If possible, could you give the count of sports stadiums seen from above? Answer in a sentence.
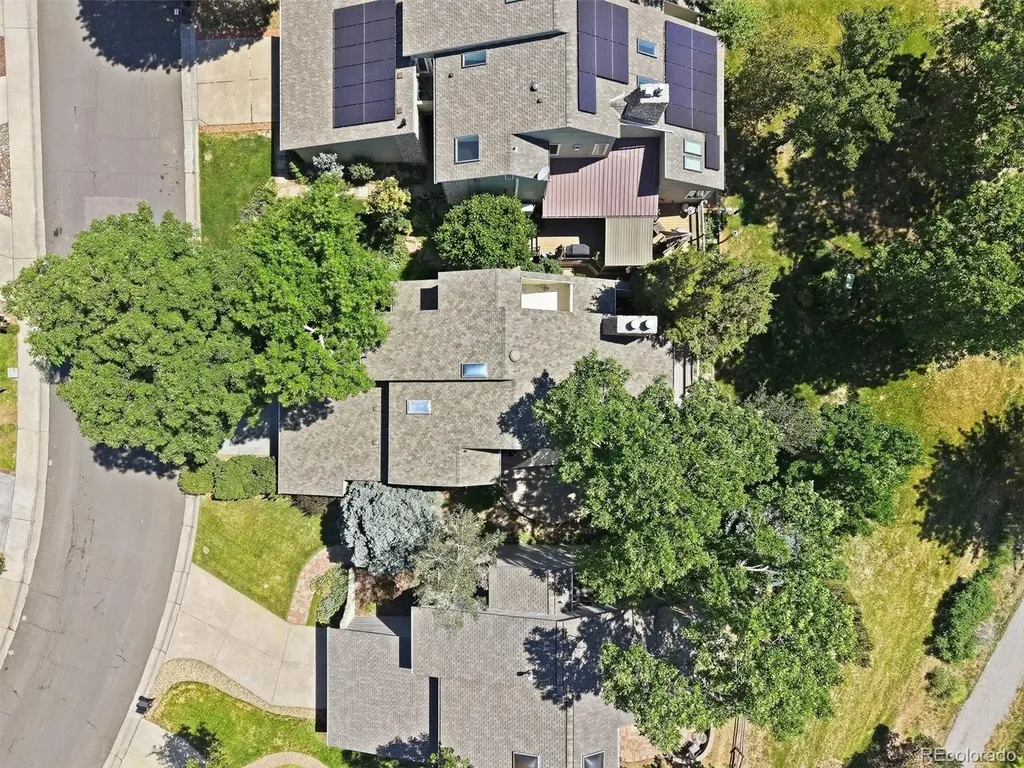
There are no sports stadiums in this view.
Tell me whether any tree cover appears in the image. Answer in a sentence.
Yes, the picture does contain tree cover.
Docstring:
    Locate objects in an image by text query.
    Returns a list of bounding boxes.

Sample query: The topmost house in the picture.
[279,0,735,201]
